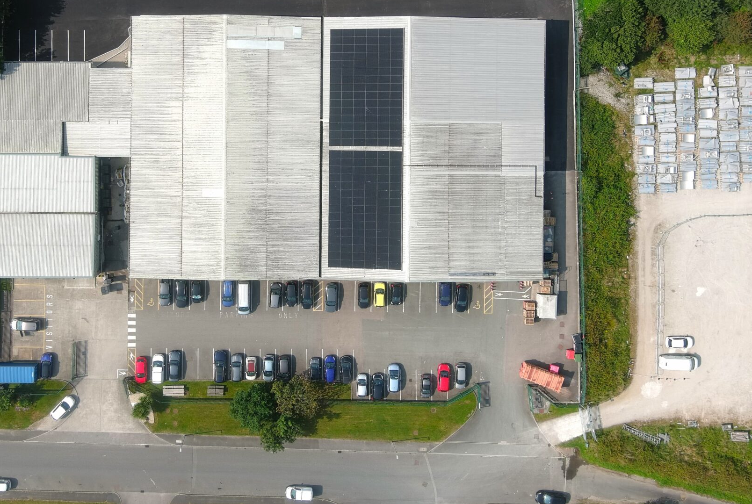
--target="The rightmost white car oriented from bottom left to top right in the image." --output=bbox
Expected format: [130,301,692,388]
[49,394,76,423]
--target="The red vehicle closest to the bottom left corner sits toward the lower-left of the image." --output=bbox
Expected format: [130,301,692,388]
[133,357,147,384]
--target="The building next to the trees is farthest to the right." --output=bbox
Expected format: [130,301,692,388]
[319,15,547,283]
